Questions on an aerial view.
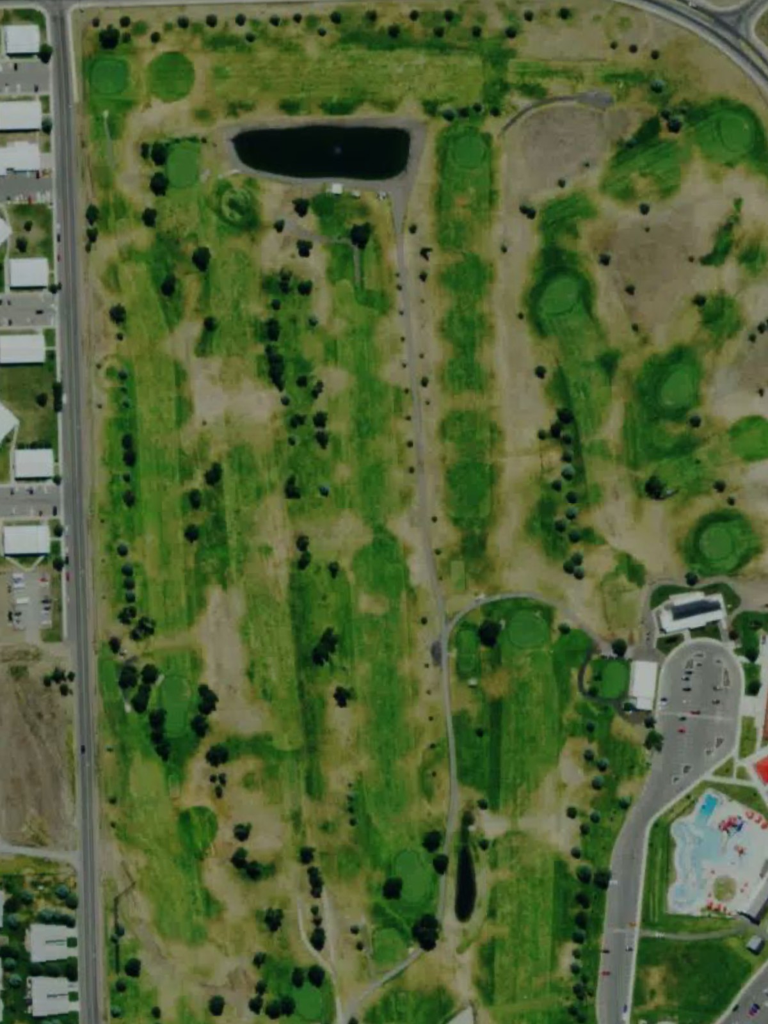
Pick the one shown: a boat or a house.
house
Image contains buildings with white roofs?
Yes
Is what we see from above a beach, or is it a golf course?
golf course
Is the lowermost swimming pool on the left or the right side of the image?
right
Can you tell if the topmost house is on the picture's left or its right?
left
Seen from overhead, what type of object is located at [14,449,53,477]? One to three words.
house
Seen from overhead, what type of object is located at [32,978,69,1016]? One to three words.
house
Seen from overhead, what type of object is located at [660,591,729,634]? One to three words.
building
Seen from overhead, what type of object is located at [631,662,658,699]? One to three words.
shed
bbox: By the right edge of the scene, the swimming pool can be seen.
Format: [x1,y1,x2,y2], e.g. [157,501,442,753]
[666,788,768,918]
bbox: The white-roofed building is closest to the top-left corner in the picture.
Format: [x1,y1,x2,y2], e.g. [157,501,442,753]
[4,24,39,52]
